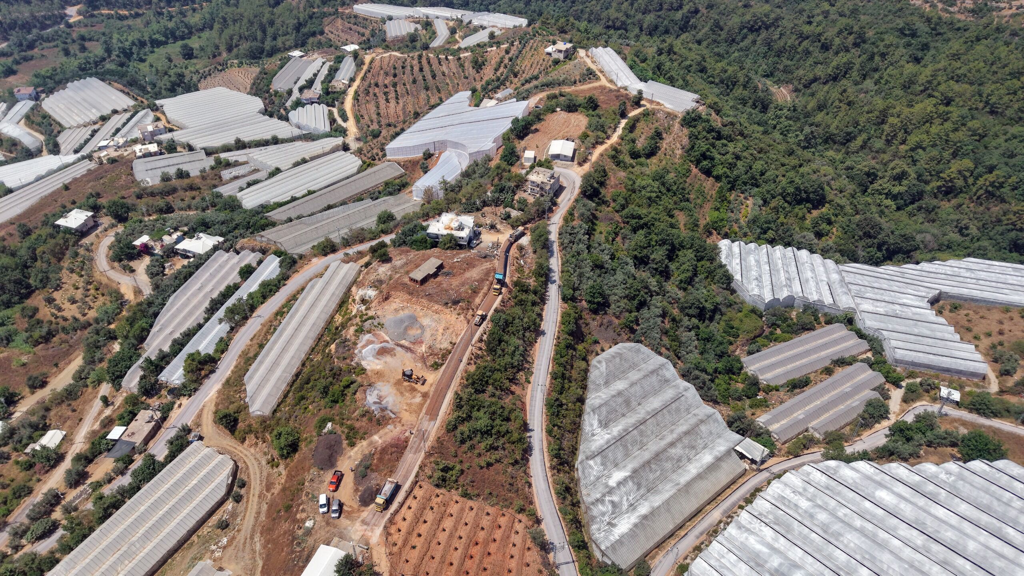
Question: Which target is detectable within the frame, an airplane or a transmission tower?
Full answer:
It is a transmission tower that can be seen here.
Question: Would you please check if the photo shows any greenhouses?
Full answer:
Yes, looking at the shot, I can spot a greenhouse.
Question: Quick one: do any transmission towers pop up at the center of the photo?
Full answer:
No, there is no transmission tower at the center of the photo.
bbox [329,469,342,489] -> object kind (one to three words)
vehicle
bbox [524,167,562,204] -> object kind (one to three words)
house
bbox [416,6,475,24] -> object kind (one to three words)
greenhouse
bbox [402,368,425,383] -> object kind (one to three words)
work vehicle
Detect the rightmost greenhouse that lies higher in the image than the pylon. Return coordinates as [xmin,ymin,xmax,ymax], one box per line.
[839,256,1024,378]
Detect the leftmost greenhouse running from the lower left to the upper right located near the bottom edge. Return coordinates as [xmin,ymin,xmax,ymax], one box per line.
[43,440,236,576]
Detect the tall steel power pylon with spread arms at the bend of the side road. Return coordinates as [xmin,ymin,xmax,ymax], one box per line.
[932,370,969,416]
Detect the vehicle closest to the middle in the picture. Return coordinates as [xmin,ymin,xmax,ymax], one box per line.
[493,271,505,294]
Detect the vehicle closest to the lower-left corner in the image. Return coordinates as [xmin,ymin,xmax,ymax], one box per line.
[187,426,202,443]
